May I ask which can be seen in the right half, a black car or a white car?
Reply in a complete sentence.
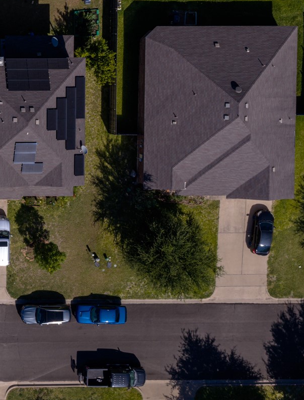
What appears in the right half is a black car.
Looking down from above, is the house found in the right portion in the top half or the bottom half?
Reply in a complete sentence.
You can find the house found in the right portion in the top half.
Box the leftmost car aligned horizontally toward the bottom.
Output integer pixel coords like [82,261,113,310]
[20,304,71,329]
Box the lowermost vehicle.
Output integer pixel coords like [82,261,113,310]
[85,364,149,390]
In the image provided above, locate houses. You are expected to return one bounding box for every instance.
[0,34,90,199]
[137,25,298,201]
